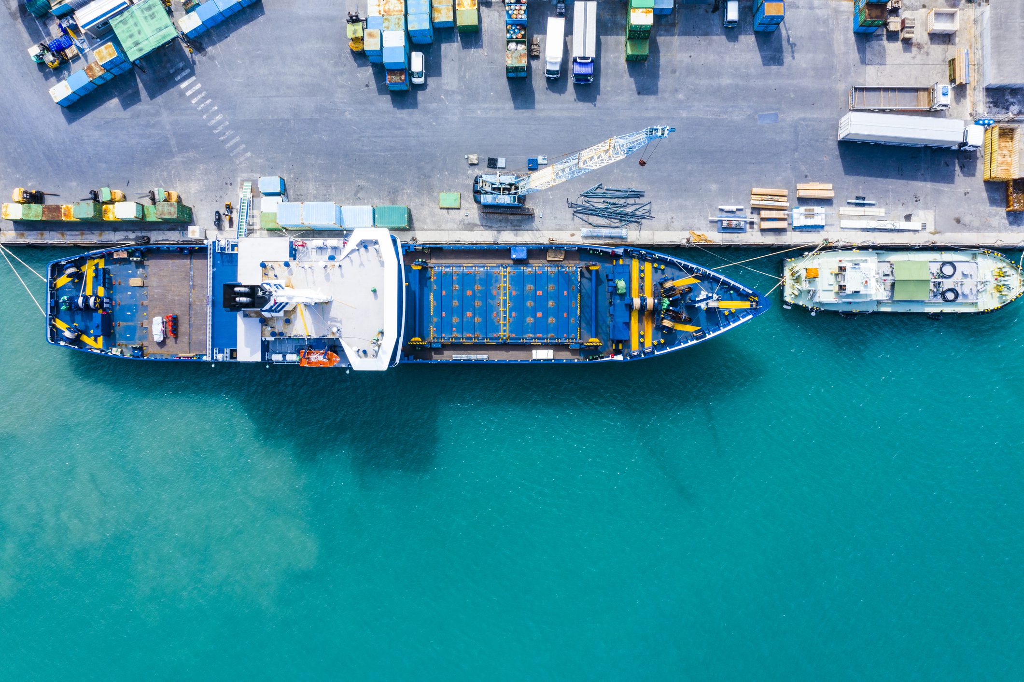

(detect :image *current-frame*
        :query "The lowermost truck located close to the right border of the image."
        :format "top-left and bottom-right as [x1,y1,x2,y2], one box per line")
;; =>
[840,110,989,149]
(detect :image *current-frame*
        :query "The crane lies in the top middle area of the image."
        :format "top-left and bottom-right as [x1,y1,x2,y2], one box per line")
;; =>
[473,123,674,217]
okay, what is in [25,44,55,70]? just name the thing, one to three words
work vehicle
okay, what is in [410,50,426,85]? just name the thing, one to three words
vehicle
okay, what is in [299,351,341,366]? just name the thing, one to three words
boat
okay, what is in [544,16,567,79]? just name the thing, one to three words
truck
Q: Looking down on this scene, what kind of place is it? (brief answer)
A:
port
